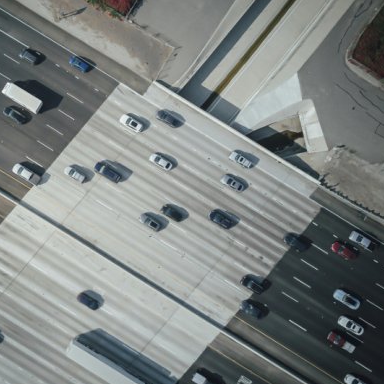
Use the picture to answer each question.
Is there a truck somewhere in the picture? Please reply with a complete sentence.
Yes, looking at the shot, I can spot a truck.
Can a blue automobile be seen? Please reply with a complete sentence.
Yes, the frame does contain a blue automobile.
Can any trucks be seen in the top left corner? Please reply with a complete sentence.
Yes, the scene does show a truck in the top left corner.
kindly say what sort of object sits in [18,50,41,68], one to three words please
car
